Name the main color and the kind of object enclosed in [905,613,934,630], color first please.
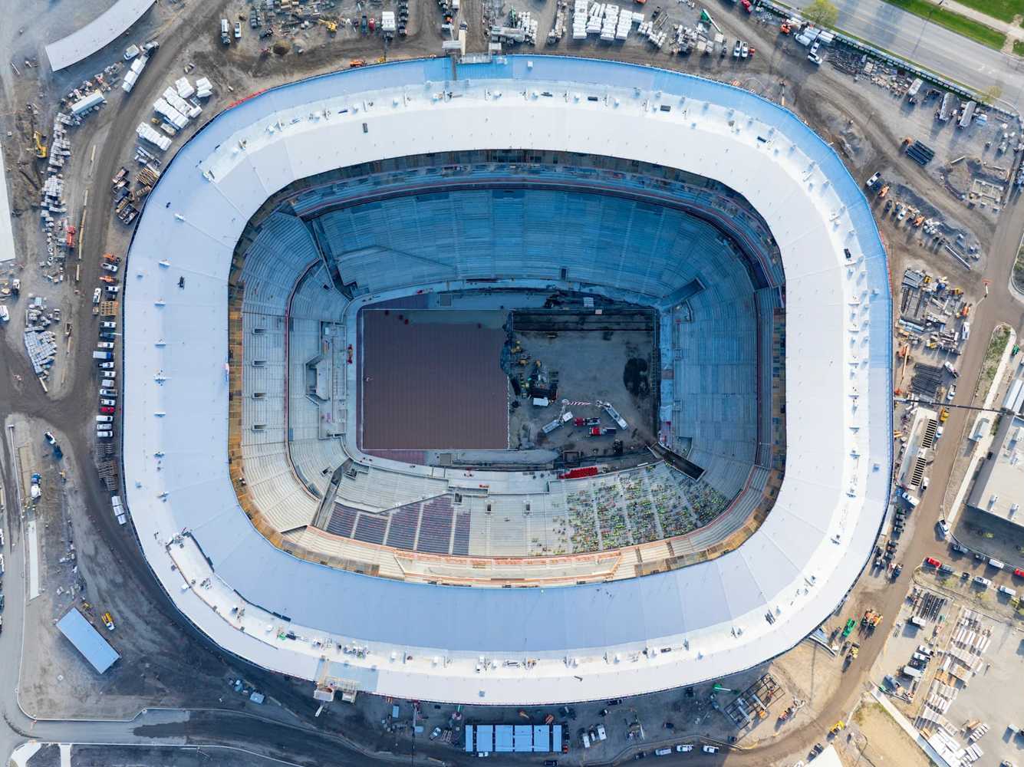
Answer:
white vehicle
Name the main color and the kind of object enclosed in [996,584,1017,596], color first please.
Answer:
white vehicle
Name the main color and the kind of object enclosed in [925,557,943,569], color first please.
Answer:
red vehicle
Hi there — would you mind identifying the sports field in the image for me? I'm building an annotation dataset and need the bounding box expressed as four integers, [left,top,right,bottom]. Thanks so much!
[358,296,656,465]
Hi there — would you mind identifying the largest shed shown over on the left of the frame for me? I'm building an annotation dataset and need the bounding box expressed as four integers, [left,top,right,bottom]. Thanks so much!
[56,604,127,673]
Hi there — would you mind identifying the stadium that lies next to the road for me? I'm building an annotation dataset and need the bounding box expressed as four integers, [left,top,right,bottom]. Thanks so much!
[120,52,896,708]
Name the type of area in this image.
sports ground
